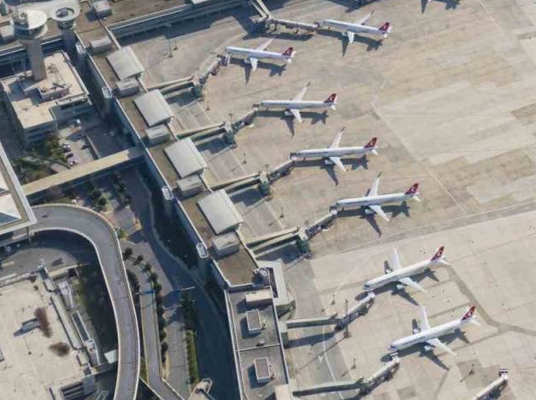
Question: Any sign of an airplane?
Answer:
Yes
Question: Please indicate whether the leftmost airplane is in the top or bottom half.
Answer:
top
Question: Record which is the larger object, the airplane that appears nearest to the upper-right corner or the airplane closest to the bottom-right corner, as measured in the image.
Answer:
the airplane closest to the bottom-right corner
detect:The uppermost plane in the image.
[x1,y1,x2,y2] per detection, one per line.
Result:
[323,13,389,43]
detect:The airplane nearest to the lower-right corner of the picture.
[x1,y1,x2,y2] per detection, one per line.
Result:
[390,301,479,357]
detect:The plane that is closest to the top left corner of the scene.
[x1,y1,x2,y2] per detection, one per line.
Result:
[226,35,294,69]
